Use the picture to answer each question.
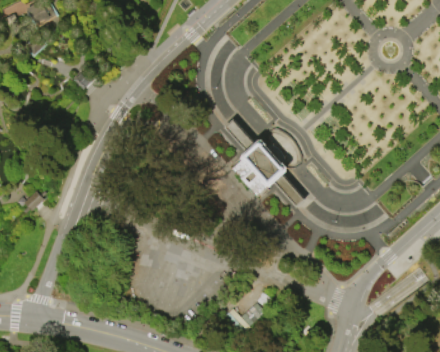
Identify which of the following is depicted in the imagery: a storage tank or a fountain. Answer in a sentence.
The image shows a fountain.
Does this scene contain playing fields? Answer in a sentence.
No, there appears to be no playing field in this shot.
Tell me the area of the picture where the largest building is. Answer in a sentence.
The largest building appears toward the center of the photo.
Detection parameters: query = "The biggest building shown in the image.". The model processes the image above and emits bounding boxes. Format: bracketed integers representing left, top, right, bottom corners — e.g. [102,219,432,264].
[235,140,287,193]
